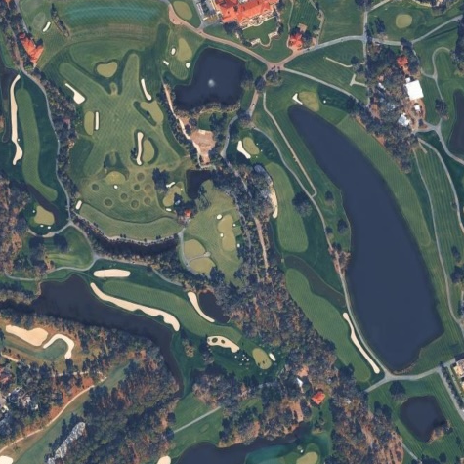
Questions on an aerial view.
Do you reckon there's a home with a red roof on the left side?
Yes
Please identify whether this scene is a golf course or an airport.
golf course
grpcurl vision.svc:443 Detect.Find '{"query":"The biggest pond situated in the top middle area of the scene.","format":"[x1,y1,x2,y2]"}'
[173,45,248,110]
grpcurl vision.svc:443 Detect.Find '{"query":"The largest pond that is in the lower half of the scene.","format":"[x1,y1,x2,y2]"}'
[399,395,450,444]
